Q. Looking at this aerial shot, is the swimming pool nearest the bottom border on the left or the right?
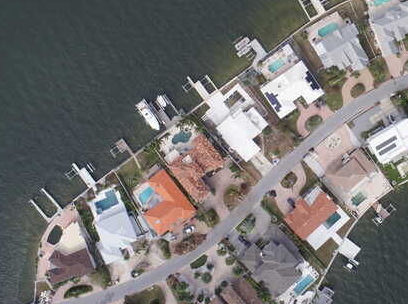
right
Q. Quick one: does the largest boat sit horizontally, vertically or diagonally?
diagonally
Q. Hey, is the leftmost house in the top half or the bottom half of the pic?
bottom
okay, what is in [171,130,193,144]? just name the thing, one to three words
swimming pool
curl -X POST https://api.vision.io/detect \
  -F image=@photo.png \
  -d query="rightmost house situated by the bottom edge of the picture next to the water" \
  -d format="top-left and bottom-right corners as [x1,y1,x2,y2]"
[241,232,310,295]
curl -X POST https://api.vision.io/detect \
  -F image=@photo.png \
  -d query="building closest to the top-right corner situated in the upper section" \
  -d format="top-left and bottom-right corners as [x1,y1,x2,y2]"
[372,2,408,58]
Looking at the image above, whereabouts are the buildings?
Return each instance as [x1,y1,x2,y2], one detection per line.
[368,118,408,166]
[212,276,266,304]
[285,187,339,241]
[241,232,310,295]
[316,23,368,77]
[166,134,224,203]
[372,2,408,58]
[201,92,268,162]
[324,148,380,203]
[48,221,96,284]
[261,62,324,119]
[145,170,196,235]
[90,202,137,265]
